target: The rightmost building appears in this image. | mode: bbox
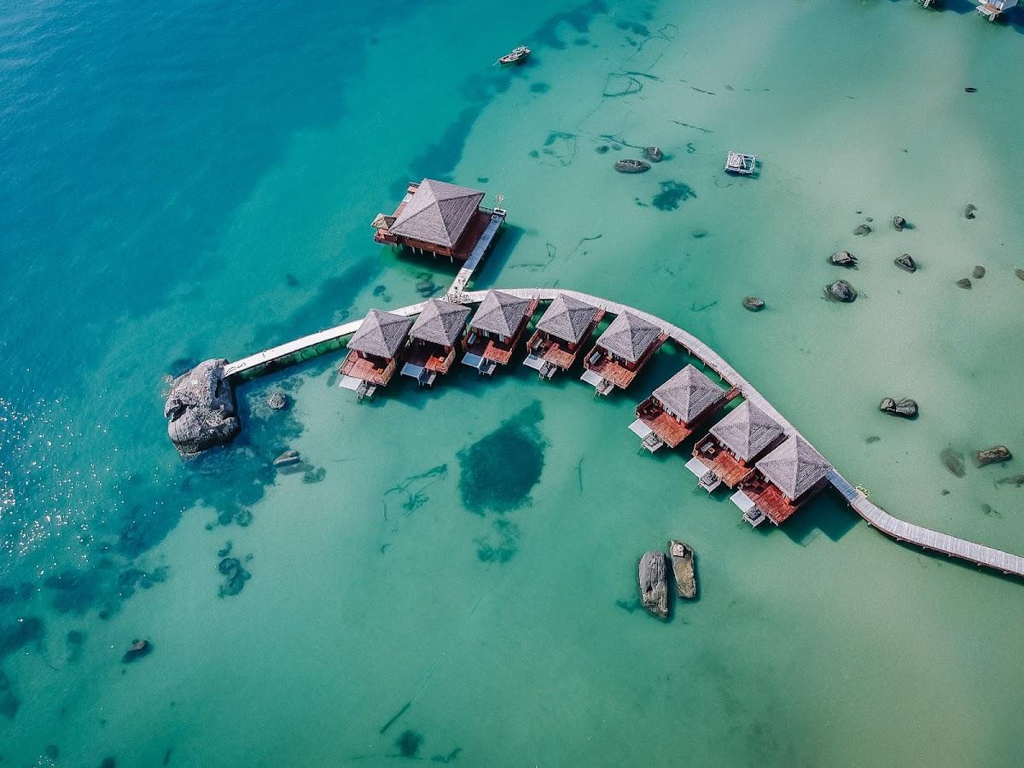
[966,0,1007,29]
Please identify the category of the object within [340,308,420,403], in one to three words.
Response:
house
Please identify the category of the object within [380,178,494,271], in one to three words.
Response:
building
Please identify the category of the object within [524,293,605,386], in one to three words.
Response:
house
